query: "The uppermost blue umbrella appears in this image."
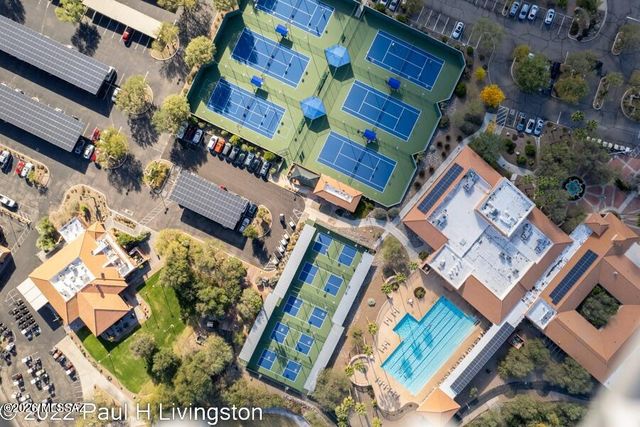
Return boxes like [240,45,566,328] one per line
[325,45,351,67]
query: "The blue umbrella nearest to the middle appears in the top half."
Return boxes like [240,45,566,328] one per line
[301,96,327,118]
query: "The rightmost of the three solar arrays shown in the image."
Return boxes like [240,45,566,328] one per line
[548,249,596,303]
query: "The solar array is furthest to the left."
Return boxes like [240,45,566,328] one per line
[418,163,462,211]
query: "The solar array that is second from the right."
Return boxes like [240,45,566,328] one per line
[450,322,514,395]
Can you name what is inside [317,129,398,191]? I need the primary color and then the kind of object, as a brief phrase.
blue tennis court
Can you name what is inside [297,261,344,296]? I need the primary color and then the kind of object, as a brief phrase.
blue sports court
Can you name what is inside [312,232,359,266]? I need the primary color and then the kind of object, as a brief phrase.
blue sports court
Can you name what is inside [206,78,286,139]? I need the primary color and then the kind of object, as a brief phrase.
blue tennis court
